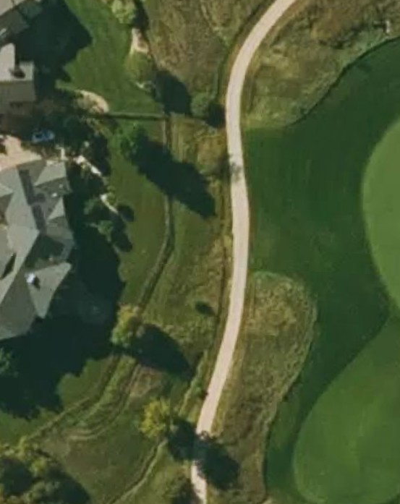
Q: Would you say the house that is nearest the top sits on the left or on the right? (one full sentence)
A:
The house that is nearest the top is on the left side of the image.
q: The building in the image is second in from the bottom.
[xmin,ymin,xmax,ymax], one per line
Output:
[0,44,35,116]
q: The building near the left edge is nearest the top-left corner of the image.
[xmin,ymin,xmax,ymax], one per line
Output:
[0,0,45,44]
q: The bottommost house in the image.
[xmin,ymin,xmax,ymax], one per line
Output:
[0,155,77,336]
